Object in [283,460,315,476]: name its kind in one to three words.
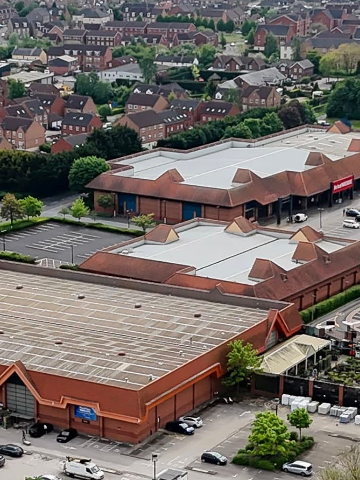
car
